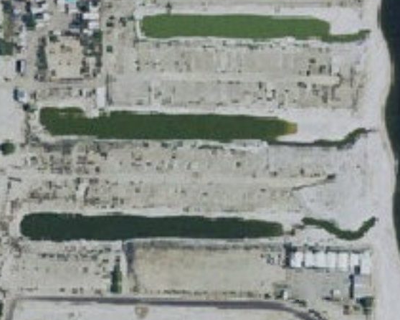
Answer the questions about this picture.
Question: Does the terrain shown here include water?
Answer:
Yes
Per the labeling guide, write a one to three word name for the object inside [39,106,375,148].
pond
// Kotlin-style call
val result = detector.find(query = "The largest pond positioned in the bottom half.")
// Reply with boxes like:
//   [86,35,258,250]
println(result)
[21,211,283,242]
